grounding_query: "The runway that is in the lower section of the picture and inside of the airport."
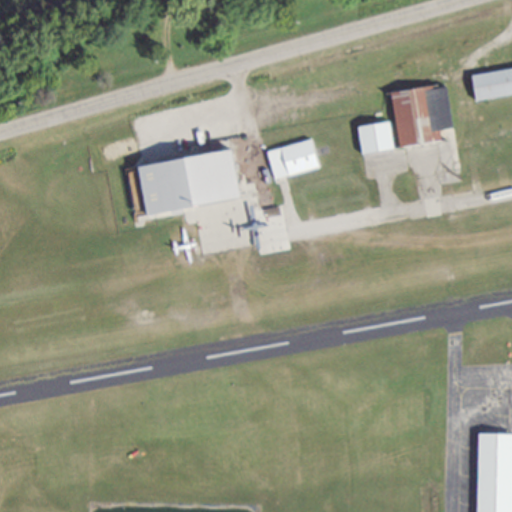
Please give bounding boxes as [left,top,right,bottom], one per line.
[0,290,512,406]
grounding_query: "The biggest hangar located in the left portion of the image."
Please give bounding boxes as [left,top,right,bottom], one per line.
[138,150,240,214]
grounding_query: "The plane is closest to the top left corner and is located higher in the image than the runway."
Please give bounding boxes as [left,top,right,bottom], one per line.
[171,227,198,264]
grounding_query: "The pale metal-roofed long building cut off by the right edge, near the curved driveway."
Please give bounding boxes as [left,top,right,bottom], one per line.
[474,68,512,102]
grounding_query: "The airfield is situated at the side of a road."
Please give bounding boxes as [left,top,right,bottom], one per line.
[0,131,512,512]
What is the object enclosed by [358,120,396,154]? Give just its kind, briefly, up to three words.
hangar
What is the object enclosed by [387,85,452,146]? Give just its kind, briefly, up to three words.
hangar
